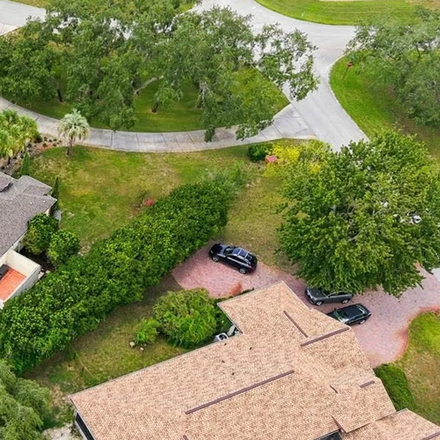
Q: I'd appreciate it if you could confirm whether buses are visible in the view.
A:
No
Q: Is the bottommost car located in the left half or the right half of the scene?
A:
right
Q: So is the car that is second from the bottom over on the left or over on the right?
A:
right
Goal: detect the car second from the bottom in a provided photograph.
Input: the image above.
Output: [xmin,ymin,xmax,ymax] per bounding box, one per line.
[305,282,355,305]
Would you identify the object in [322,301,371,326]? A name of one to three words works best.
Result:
car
